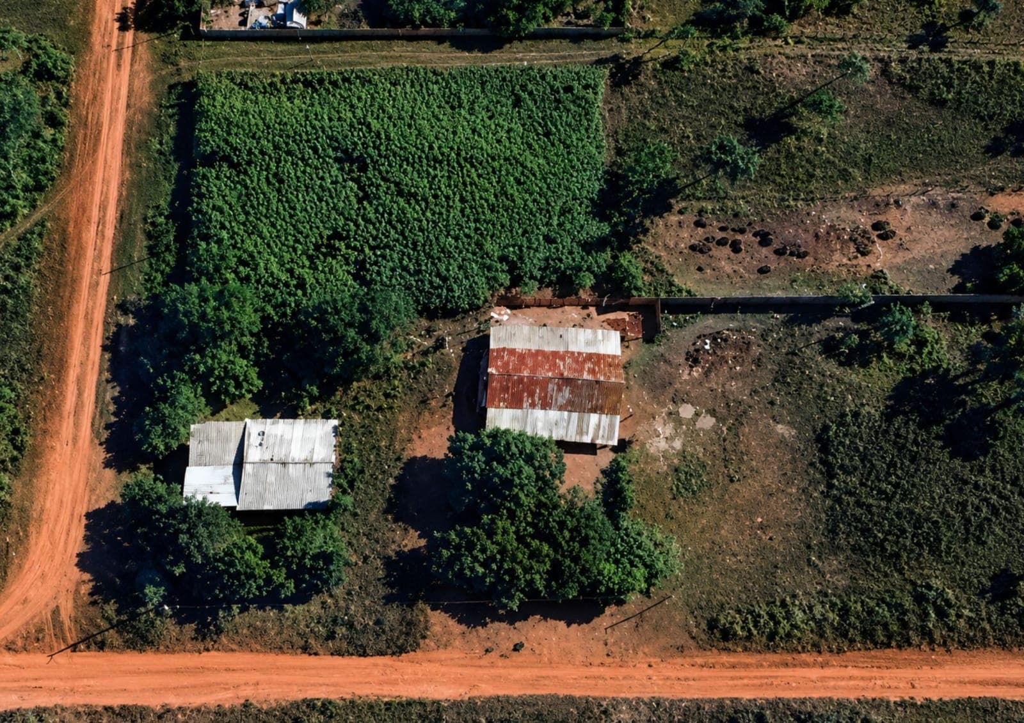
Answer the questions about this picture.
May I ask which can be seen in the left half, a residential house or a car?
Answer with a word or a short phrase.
residential house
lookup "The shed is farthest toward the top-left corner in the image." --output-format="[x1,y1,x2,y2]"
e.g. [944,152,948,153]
[286,3,306,29]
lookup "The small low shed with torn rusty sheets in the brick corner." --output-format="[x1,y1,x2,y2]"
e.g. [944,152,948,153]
[605,312,642,341]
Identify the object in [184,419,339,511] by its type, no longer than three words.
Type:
house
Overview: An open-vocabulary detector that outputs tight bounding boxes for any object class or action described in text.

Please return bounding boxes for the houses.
[477,325,625,447]
[184,419,339,511]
